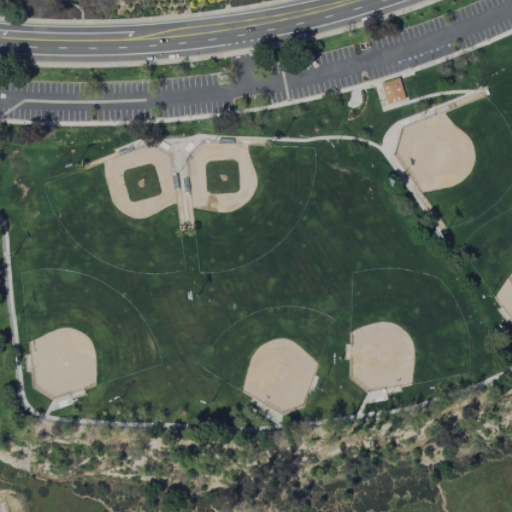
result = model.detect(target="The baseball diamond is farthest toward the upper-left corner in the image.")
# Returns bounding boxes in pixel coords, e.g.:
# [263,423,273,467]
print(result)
[46,148,185,274]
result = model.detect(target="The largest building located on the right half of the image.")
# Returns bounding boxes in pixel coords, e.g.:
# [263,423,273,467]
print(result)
[384,77,406,104]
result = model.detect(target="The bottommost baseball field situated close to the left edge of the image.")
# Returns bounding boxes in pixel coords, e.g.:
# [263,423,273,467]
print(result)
[23,268,161,399]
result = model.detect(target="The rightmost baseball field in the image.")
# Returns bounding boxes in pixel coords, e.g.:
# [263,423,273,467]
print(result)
[467,210,512,320]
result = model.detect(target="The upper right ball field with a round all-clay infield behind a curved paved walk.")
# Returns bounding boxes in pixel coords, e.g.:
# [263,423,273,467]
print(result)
[396,97,512,228]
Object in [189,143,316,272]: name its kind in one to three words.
baseball field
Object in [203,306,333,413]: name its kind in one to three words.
baseball field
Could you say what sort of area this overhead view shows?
sports ground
